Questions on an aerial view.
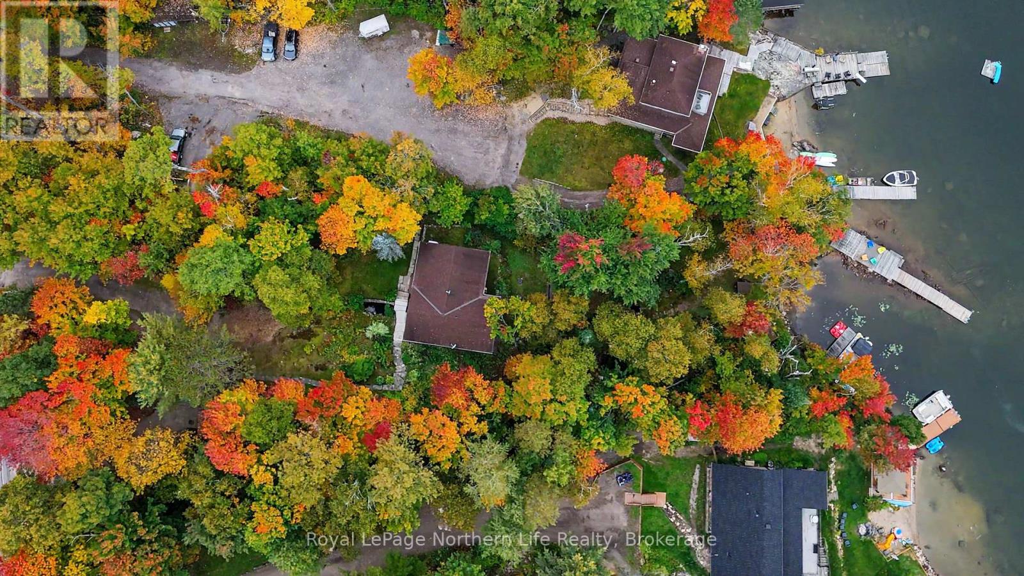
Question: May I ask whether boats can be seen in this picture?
Yes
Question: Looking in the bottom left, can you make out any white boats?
No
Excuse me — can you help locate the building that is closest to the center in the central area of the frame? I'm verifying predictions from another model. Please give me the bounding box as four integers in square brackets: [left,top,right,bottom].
[403,241,502,354]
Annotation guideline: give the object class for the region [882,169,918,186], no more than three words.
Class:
boat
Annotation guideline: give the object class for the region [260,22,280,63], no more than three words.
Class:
vehicle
